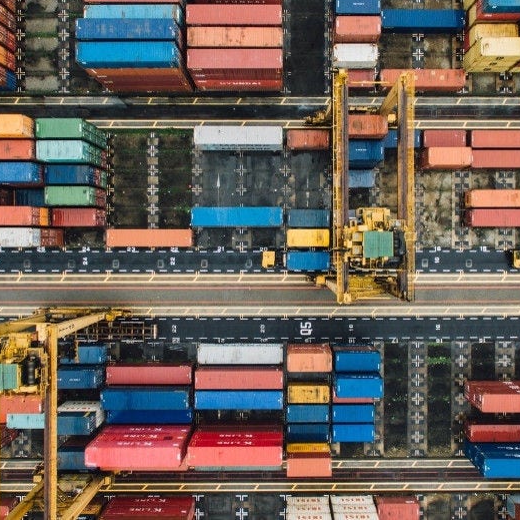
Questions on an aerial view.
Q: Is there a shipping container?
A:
Yes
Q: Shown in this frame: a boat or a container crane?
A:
container crane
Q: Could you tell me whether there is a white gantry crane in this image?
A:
No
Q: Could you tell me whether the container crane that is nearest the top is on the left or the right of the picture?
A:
right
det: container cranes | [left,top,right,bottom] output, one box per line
[0,308,135,520]
[299,70,415,304]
